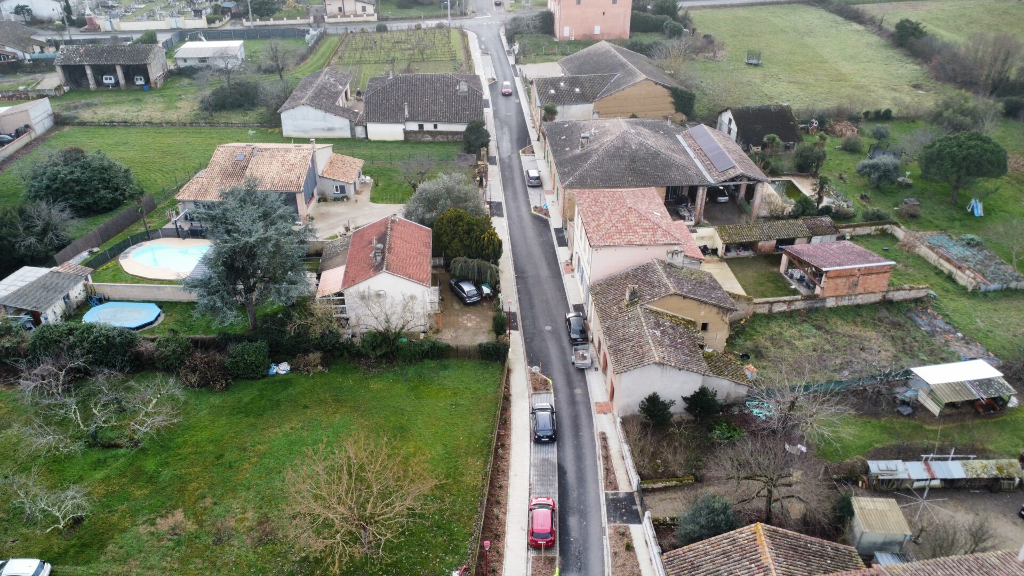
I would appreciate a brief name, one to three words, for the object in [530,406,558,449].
car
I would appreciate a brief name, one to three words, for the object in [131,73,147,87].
vehicle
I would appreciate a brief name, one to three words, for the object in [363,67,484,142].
house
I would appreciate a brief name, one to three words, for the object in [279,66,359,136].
shed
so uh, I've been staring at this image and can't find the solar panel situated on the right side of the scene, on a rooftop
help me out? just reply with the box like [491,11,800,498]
[690,125,735,171]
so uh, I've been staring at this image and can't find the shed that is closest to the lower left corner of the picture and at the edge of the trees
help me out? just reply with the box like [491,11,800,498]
[0,261,95,325]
